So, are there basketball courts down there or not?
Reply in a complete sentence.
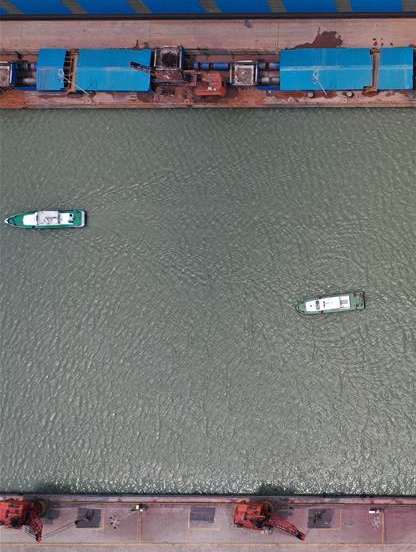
No, the picture doesn't show any basketball court.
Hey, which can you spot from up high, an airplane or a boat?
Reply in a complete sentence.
Of the two, only a boat appears.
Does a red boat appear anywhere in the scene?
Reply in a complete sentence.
No, no red boat can be seen from above.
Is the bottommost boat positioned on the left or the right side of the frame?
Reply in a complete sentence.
The bottommost boat appears in the right half of the scene.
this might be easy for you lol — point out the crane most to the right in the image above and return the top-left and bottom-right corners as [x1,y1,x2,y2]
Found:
[230,494,318,542]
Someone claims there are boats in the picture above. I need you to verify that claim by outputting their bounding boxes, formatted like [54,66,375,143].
[3,210,89,229]
[296,292,368,315]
